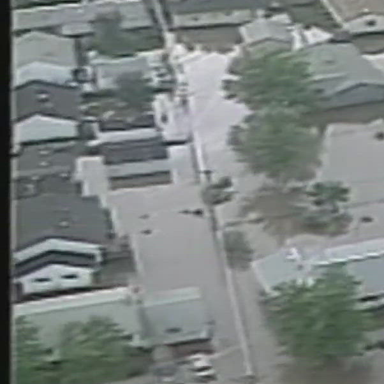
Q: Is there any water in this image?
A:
Yes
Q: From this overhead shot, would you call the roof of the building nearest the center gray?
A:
Yes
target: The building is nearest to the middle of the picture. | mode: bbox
[98,127,167,178]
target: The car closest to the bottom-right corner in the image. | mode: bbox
[185,353,220,384]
